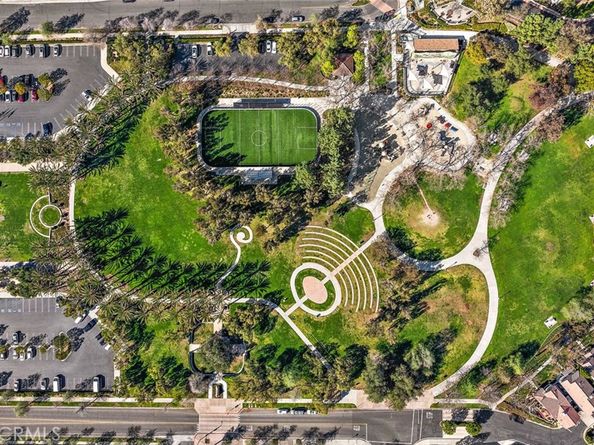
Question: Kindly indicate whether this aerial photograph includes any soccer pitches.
Yes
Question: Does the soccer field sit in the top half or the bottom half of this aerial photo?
top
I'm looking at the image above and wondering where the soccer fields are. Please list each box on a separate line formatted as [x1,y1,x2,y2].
[200,108,319,168]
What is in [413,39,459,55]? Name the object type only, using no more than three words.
building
